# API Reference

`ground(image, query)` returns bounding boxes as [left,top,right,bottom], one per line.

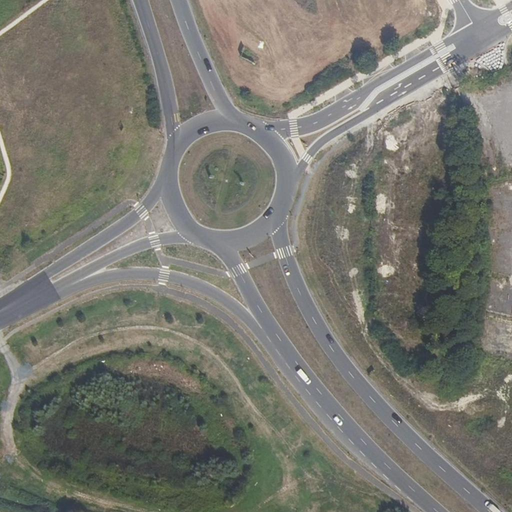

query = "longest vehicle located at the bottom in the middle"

[296,368,310,384]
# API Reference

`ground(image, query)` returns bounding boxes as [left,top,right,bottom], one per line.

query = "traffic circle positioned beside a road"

[144,108,303,256]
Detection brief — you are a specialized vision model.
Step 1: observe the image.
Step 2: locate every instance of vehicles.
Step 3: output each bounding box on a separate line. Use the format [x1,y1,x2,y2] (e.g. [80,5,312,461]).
[247,122,258,130]
[198,128,210,134]
[264,125,275,130]
[204,58,212,70]
[334,416,343,426]
[326,333,334,344]
[264,207,272,217]
[296,368,310,384]
[392,414,402,424]
[486,503,500,512]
